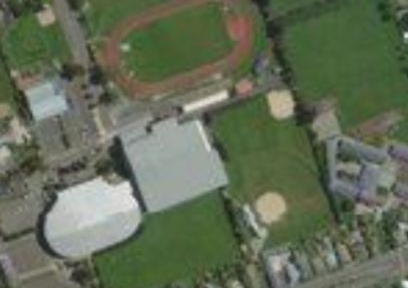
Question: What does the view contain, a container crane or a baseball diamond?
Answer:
baseball diamond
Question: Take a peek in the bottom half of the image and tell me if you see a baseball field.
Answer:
Yes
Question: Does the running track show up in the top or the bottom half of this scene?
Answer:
top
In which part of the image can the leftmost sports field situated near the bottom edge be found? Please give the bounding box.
[94,189,242,288]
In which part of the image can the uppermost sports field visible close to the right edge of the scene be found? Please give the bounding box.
[276,0,408,148]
